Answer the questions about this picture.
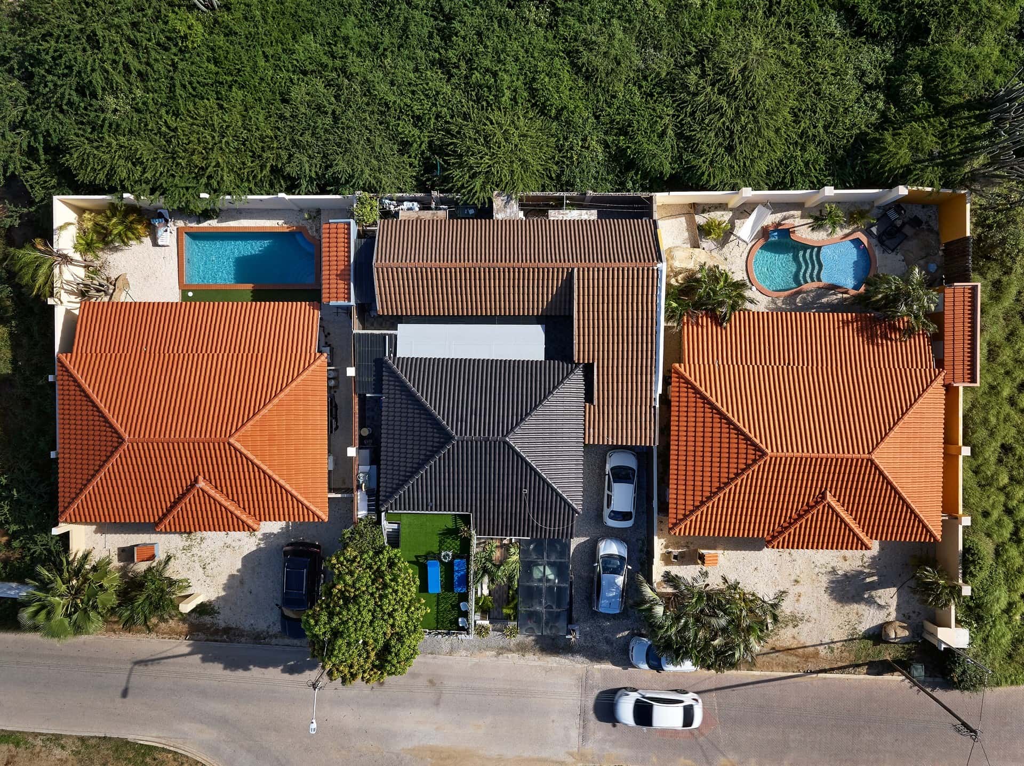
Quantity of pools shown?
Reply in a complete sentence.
In total, 2 pools can be seen.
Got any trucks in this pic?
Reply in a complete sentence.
No, no truck is visible in the view.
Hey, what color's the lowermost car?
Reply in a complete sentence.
The lowermost car looks white in the image.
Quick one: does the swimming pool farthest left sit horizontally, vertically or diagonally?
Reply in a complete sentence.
In this picture, the swimming pool farthest left lies horizontally.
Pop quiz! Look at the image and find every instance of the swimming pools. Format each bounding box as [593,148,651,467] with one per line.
[747,222,877,298]
[177,225,321,290]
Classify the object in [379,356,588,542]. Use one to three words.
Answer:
house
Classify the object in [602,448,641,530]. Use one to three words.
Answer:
car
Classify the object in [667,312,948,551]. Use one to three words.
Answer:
house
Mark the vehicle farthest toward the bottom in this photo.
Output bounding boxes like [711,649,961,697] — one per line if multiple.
[613,688,703,733]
